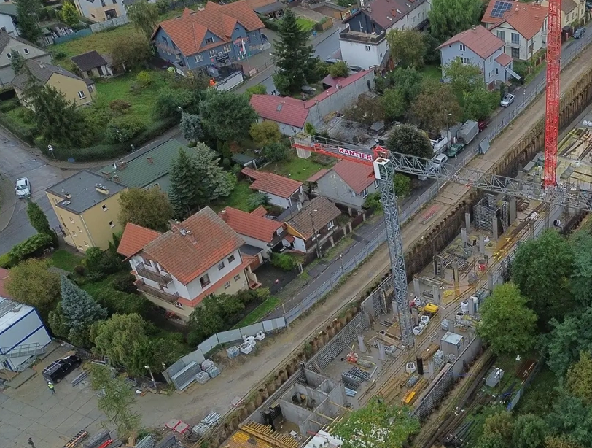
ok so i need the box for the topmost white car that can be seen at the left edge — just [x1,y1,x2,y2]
[15,180,31,196]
